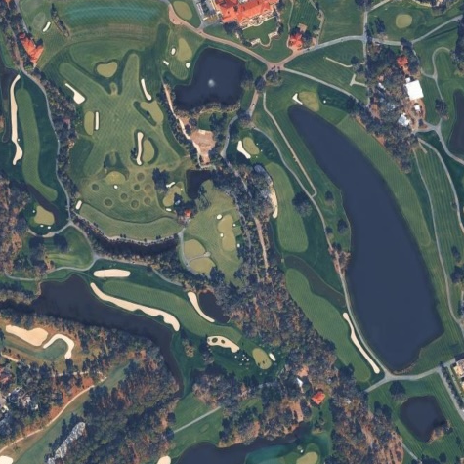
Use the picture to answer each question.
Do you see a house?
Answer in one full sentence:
Yes, a house can be made out from above.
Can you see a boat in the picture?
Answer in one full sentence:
No, the picture doesn't show any boat.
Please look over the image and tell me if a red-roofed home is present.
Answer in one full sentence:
Yes, I can see a red-roofed home in this picture.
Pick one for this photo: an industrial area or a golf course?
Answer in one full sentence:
The area seen from above is a golf course.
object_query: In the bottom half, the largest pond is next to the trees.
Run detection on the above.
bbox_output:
[399,395,450,444]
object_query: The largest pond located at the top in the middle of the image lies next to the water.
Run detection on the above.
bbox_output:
[173,45,248,110]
